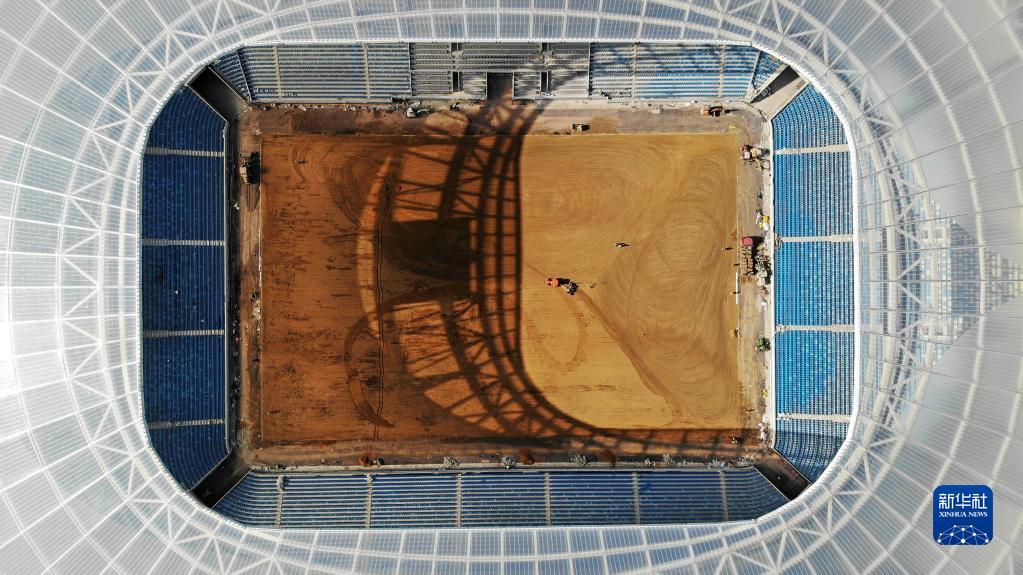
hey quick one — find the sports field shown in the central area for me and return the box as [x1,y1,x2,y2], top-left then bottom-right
[260,134,740,442]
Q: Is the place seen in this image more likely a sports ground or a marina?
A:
sports ground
